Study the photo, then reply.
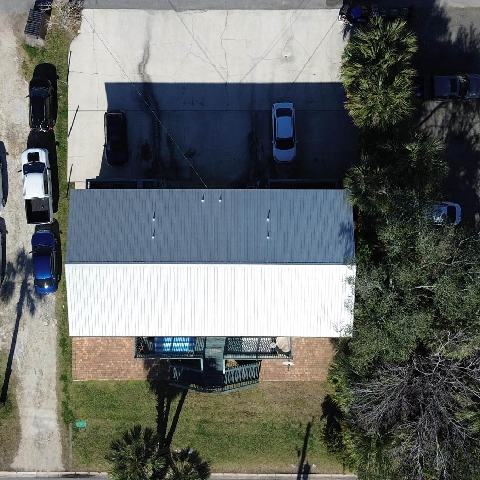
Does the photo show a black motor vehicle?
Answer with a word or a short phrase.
Yes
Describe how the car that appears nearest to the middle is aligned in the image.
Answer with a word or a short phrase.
up and down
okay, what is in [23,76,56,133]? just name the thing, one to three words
car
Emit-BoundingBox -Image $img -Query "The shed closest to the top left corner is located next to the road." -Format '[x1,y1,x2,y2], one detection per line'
[22,7,51,41]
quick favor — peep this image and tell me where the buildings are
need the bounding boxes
[22,7,51,41]
[64,189,356,339]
